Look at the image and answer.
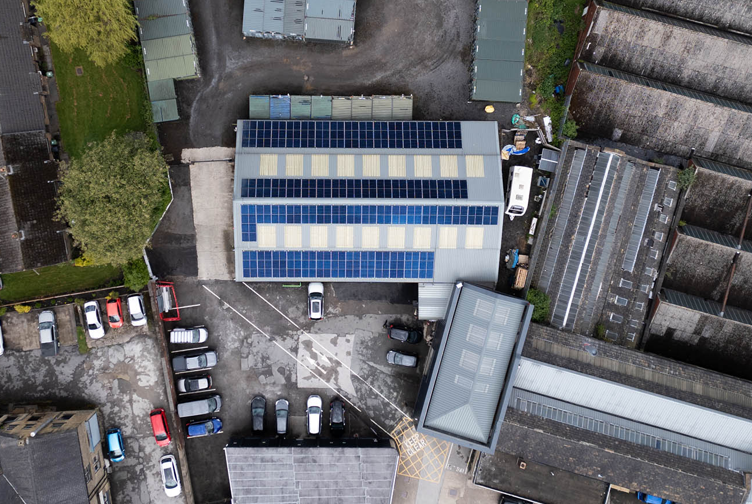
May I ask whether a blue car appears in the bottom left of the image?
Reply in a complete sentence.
Yes, there is a blue car in the bottom left of the image.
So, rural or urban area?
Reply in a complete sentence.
The land in this view is best described as urban.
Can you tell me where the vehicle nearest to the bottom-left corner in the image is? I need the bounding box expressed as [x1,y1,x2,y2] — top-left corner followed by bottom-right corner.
[107,426,126,462]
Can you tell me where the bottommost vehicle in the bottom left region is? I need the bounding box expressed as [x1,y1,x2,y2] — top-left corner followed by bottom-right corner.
[160,453,181,497]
